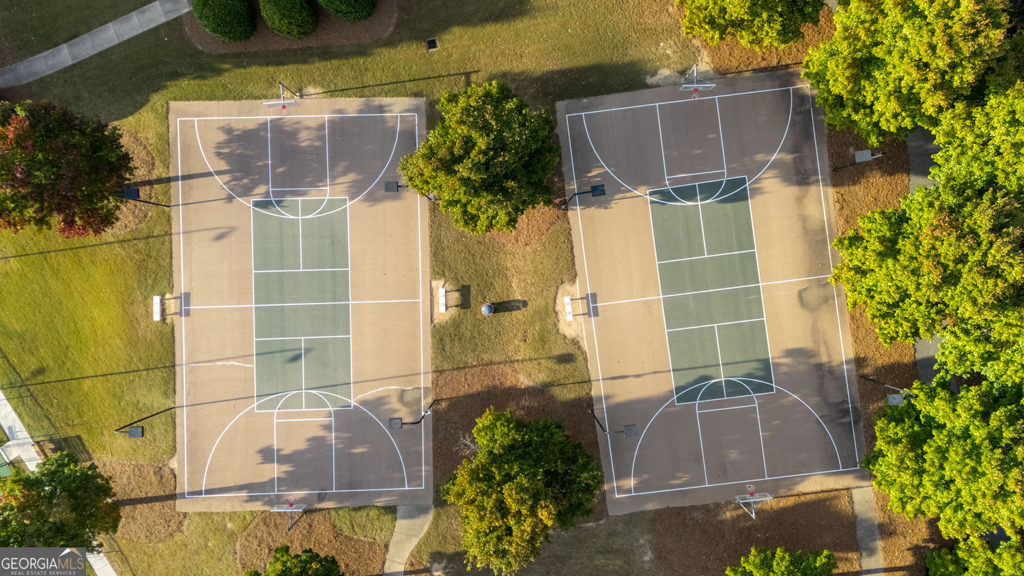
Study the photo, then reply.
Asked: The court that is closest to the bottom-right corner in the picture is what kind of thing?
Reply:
basketball court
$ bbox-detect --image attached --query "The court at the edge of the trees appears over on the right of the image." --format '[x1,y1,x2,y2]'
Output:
[556,65,872,515]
